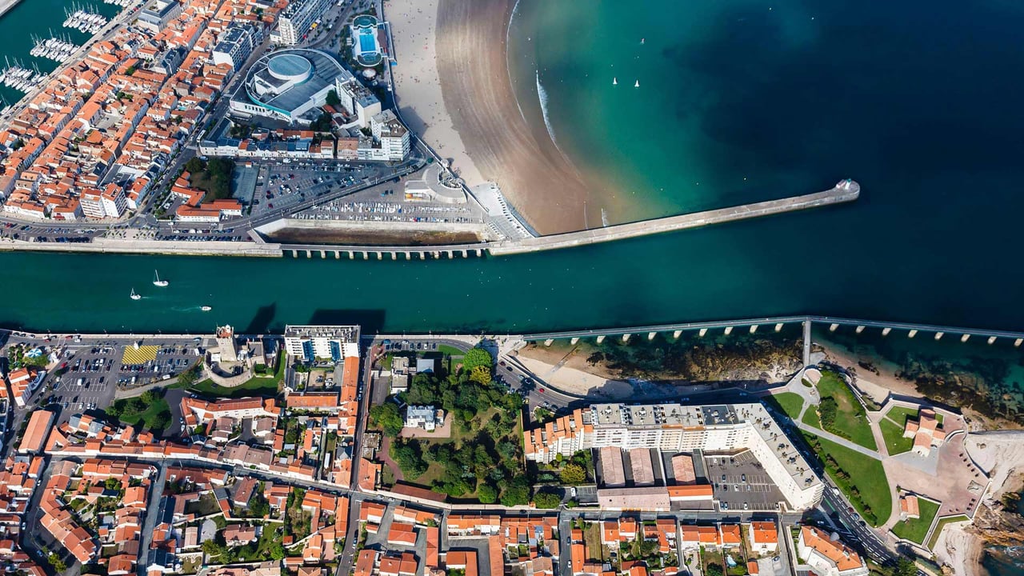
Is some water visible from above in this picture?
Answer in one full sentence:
Yes, there's water in this view.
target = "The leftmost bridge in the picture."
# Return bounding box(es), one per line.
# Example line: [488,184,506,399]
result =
[276,240,492,258]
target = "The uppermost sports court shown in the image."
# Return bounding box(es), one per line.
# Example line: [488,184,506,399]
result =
[232,164,260,205]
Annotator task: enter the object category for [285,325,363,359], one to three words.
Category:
building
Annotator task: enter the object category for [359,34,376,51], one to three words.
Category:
swimming pool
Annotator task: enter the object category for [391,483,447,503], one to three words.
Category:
shed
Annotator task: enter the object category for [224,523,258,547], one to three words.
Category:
house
